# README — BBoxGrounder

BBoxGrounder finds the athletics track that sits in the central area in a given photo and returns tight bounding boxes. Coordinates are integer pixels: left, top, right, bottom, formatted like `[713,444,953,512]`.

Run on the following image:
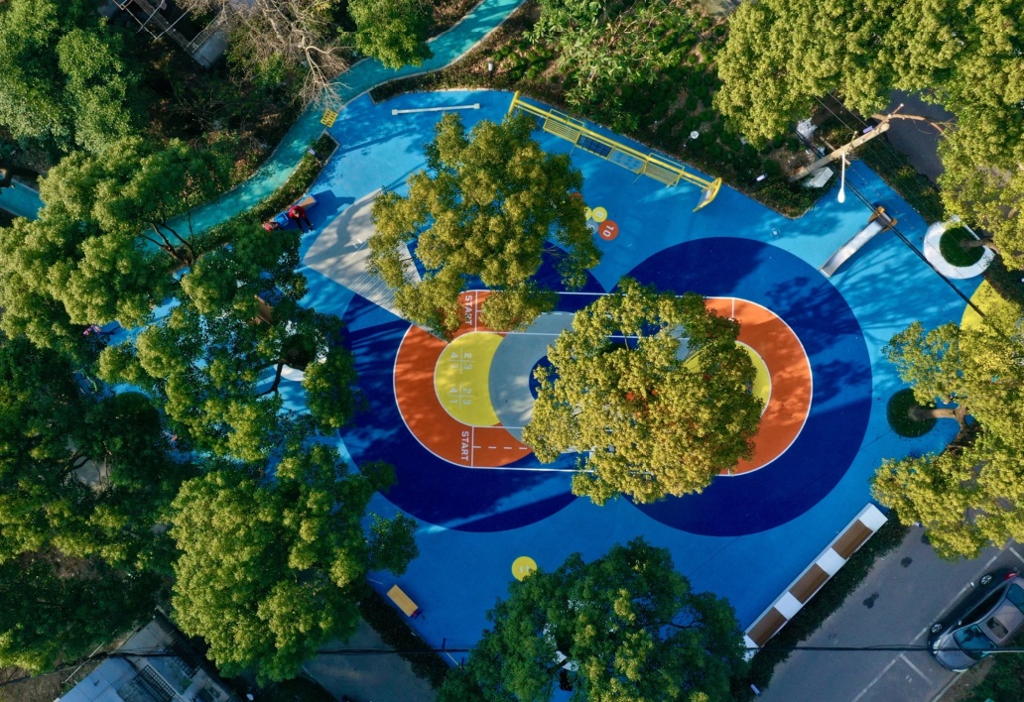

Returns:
[341,233,874,537]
